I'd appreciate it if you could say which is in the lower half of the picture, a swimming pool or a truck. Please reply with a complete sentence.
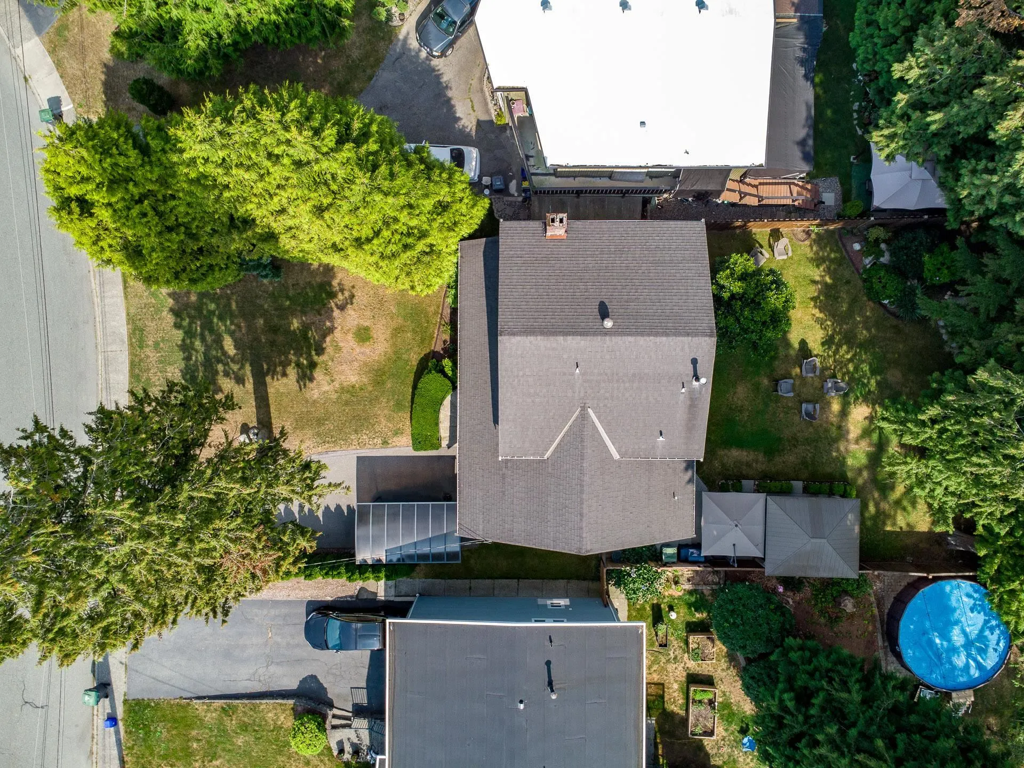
The one visible in the lower half of the picture is a swimming pool.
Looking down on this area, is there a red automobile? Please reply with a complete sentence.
No, this view has no red automobile in it.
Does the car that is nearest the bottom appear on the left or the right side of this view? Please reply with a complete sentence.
The car that is nearest the bottom is on the left side of the image.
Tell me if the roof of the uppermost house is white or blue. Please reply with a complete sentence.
The roof of the uppermost house looks white in the image.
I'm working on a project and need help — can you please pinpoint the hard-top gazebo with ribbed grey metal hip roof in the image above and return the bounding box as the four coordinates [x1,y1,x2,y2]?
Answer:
[753,490,861,579]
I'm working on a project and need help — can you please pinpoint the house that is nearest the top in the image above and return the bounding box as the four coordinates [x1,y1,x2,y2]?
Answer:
[473,0,823,206]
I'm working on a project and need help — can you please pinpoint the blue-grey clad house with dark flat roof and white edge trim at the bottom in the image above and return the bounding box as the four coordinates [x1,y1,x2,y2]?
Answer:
[375,595,646,768]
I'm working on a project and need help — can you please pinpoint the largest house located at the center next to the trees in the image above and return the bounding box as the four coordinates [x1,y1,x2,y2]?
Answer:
[456,213,716,553]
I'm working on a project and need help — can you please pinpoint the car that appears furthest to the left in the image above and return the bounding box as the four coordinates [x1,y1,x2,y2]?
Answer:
[308,608,404,658]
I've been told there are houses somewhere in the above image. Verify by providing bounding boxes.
[473,0,823,206]
[456,213,716,553]
[375,595,646,768]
